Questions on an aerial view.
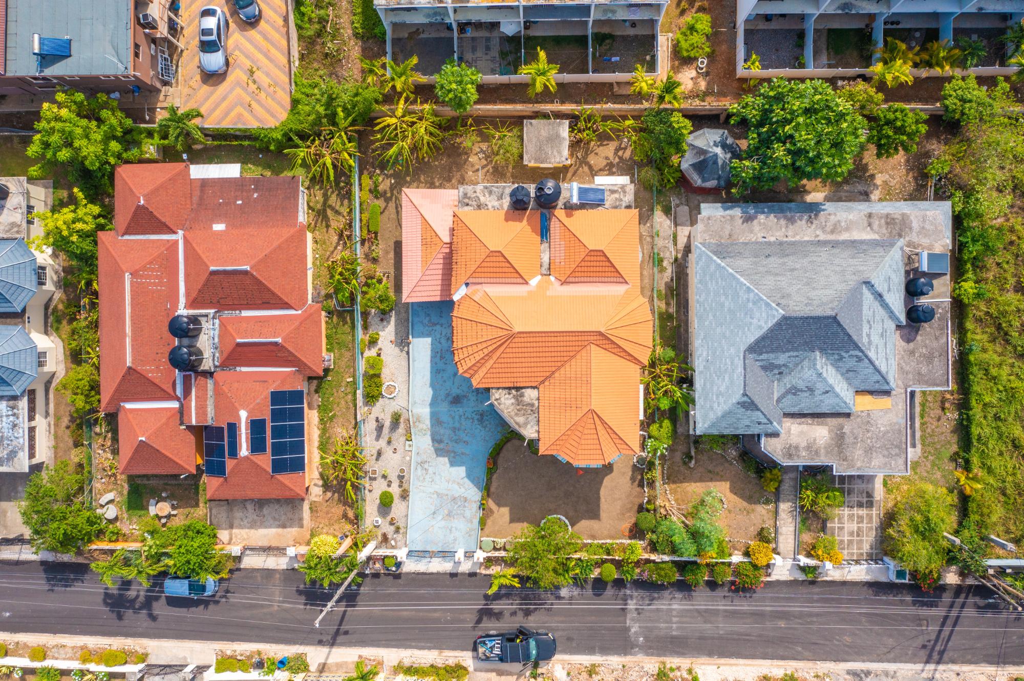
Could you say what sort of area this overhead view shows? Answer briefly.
residential area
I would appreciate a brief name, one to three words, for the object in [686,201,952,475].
house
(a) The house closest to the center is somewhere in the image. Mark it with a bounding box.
[402,185,654,467]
